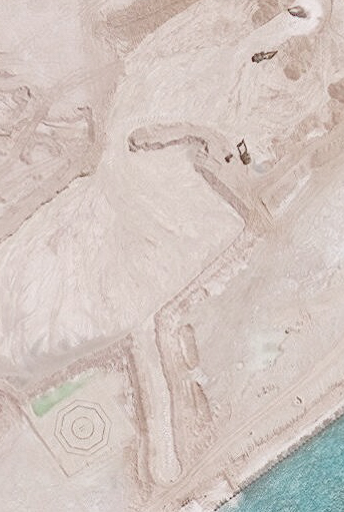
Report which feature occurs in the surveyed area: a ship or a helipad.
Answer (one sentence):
The one in the frame is a helipad.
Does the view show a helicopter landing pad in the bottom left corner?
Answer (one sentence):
Yes, a helicopter landing pad shows up in the bottom left corner.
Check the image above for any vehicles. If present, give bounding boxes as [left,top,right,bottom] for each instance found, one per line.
[225,153,234,161]
[251,50,276,64]
[240,139,251,165]
[288,7,308,20]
